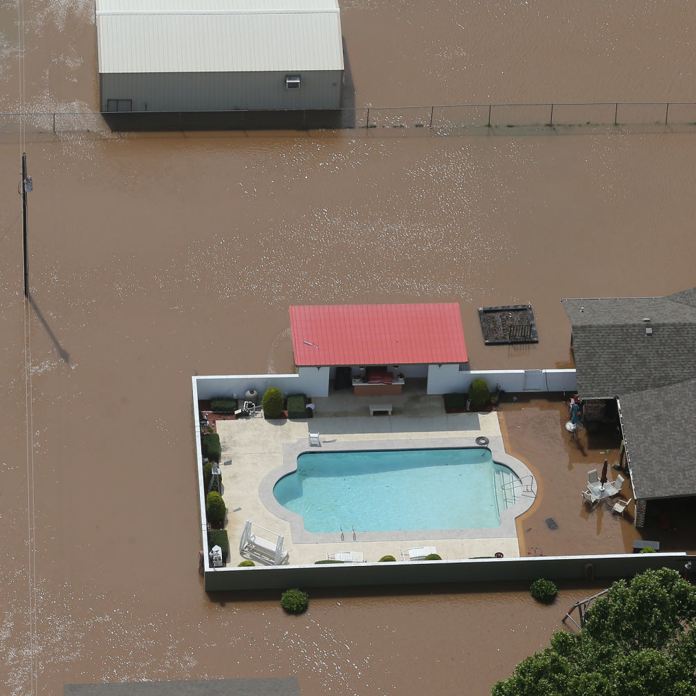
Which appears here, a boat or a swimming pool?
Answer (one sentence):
I can see a swimming pool in this picture.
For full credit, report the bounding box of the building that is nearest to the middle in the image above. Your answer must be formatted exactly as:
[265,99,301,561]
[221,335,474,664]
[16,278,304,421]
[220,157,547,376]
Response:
[290,303,469,396]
